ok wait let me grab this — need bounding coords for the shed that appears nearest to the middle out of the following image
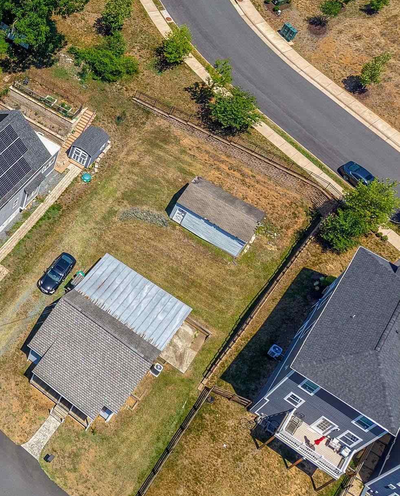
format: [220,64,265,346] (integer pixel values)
[170,173,266,254]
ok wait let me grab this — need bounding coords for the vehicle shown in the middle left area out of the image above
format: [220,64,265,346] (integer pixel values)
[39,248,79,292]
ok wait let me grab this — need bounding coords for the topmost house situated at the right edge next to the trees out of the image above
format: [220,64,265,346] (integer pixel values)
[253,246,400,454]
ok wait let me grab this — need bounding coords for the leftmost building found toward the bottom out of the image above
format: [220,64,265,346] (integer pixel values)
[28,252,192,423]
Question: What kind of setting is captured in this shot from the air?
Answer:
residential area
